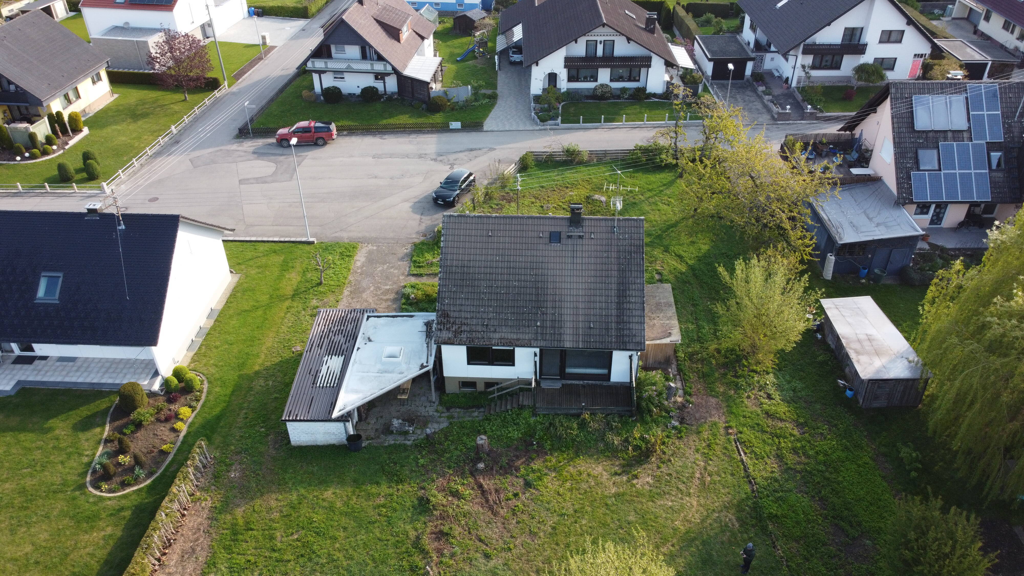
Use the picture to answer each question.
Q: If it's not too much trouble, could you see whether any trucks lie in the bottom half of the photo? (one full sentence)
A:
No, no truck is visible in the bottom half of the photo.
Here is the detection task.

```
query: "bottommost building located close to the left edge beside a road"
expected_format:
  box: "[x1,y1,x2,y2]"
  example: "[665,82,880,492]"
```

[0,201,236,374]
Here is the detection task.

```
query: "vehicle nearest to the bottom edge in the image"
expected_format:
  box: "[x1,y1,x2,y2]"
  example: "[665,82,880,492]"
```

[431,164,479,204]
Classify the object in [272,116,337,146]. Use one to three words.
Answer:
truck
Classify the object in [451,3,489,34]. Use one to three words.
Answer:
shed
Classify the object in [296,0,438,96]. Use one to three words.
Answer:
house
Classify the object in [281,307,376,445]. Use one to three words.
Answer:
building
